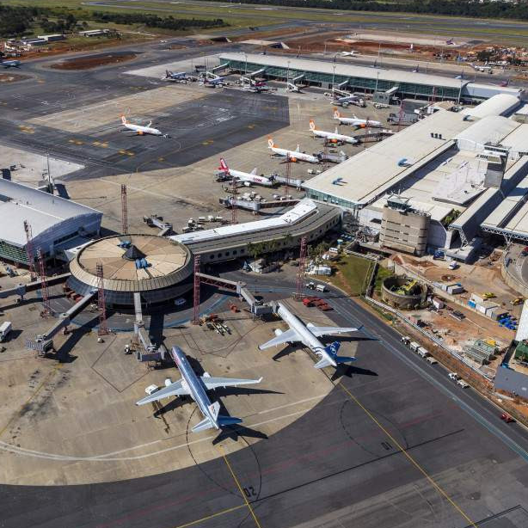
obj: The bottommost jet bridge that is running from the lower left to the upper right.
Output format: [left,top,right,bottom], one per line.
[27,293,93,362]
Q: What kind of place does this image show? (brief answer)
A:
airport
